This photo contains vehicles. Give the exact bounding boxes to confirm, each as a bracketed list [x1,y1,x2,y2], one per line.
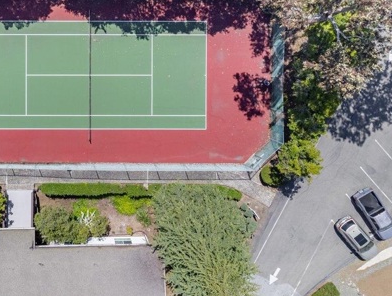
[336,213,376,259]
[350,183,392,240]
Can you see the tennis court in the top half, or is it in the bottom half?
top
